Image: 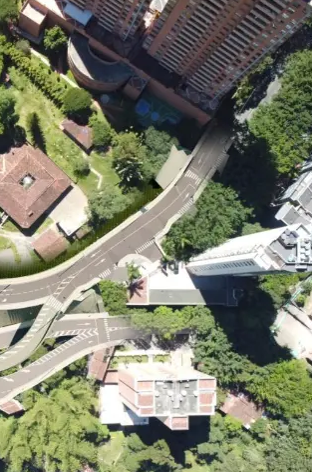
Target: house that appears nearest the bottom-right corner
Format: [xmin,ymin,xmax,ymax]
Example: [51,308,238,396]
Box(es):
[221,396,264,425]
